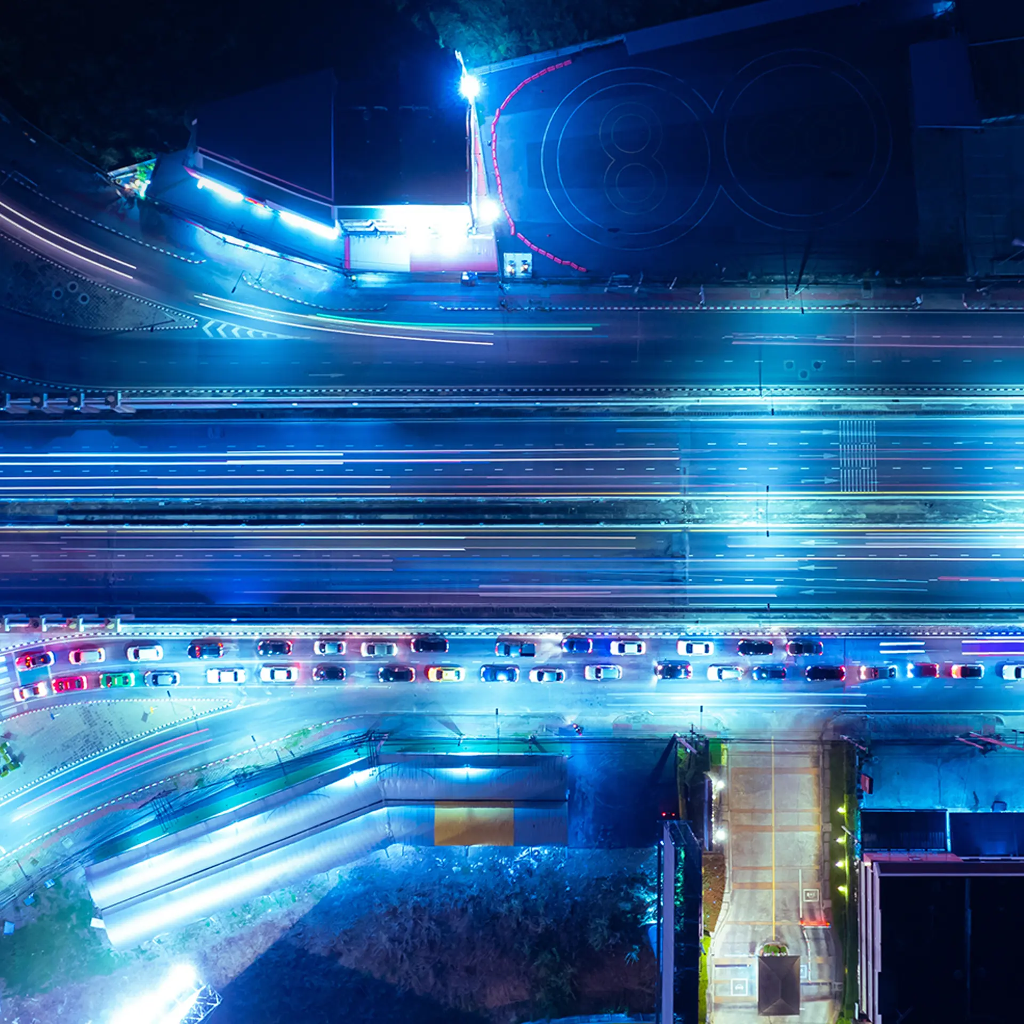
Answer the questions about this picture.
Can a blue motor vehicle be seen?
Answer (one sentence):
Yes, looking at the shot, I can spot a blue motor vehicle.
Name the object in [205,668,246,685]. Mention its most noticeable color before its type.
white vehicle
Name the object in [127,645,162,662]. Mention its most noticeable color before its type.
white car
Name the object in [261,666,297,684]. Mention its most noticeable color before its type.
white car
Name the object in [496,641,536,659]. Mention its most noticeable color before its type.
blue vehicle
